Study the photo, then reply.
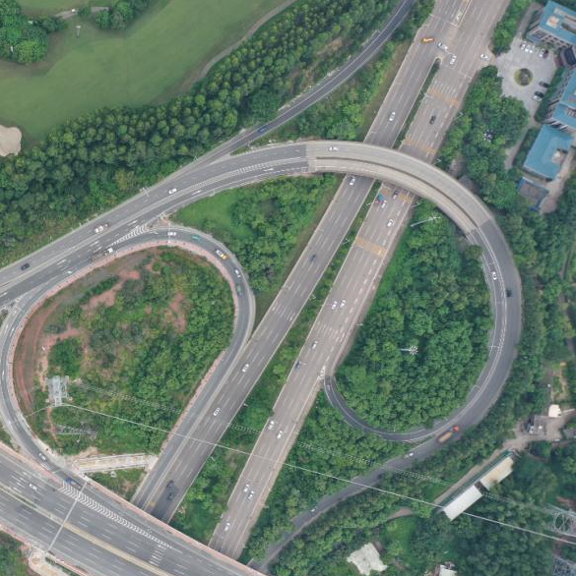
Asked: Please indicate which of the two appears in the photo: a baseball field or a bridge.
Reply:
bridge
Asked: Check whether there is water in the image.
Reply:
No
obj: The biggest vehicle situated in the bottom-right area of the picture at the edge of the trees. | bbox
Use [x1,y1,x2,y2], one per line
[438,424,463,443]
